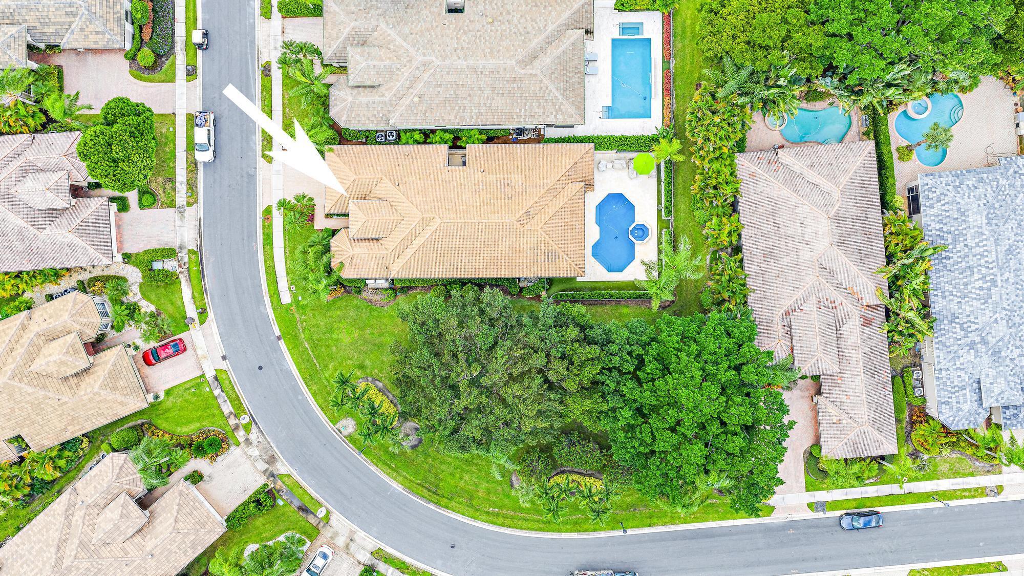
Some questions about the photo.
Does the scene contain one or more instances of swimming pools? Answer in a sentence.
Yes, a swimming pool can be made out from above.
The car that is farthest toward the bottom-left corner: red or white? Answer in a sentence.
The color of the car that is farthest toward the bottom-left corner is red.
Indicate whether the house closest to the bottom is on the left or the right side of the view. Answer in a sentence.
It is on the left.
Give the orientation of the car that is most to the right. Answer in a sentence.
From this overhead view, the car that is most to the right appears to run from side to side.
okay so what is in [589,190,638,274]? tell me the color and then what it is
blue swimming pool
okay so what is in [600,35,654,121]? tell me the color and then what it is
blue swimming pool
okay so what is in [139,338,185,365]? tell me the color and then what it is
red car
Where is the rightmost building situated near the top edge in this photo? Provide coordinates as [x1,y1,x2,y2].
[322,0,594,130]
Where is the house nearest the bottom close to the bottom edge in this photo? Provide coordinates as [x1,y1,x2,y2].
[0,451,228,576]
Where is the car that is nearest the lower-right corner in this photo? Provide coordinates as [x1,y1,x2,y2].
[842,511,889,535]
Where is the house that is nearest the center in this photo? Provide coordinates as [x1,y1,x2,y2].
[324,143,595,279]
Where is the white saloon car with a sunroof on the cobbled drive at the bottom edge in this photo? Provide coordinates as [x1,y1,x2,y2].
[299,547,330,576]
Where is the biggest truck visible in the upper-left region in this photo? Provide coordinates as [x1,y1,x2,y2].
[189,109,215,161]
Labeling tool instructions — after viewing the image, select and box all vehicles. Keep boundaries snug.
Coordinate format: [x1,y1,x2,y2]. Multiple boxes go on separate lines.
[299,547,330,576]
[189,109,215,161]
[191,28,210,51]
[842,511,889,535]
[139,338,185,365]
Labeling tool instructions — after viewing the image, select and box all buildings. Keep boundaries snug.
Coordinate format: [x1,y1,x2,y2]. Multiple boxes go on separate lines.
[0,0,132,72]
[324,143,595,279]
[0,451,228,576]
[734,140,899,460]
[906,154,1024,431]
[0,289,153,468]
[322,0,594,130]
[0,130,118,272]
